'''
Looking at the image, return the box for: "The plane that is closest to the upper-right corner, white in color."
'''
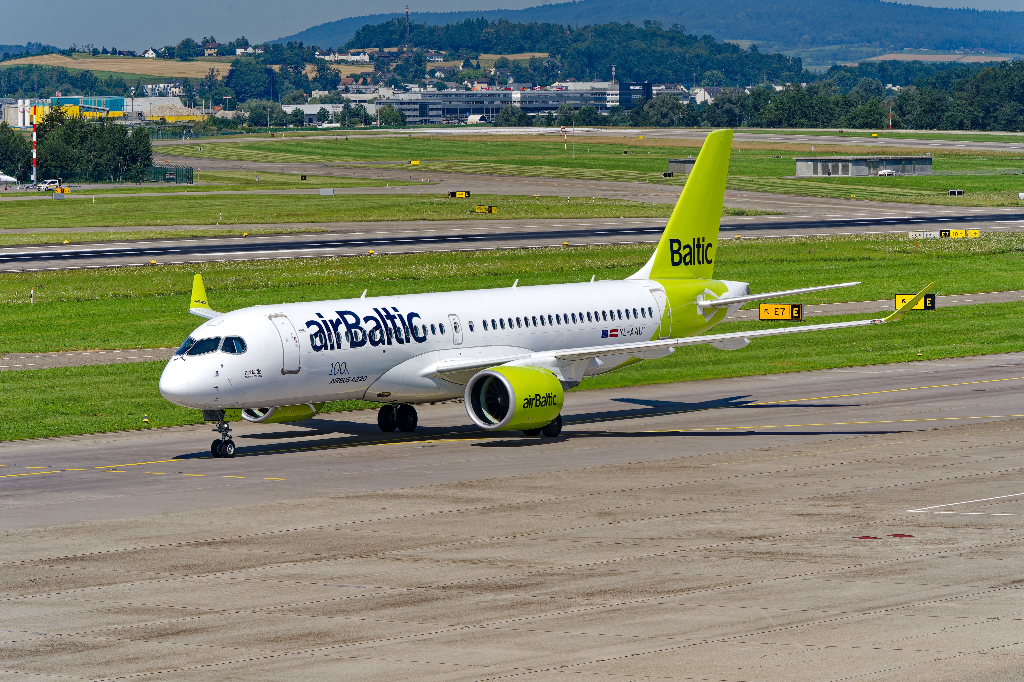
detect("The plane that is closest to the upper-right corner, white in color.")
[158,129,939,458]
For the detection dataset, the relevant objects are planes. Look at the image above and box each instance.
[0,173,17,189]
[158,129,939,458]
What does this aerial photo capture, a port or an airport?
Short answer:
airport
